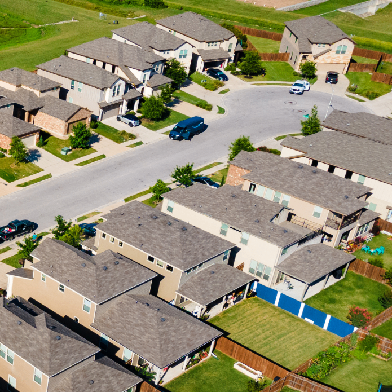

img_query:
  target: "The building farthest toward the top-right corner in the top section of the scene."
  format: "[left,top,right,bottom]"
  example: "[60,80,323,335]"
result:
[284,22,358,74]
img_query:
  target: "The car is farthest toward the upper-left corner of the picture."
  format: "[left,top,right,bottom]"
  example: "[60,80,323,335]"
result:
[113,114,137,127]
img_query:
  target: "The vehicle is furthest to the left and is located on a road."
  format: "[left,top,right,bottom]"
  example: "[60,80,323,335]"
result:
[0,216,33,239]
